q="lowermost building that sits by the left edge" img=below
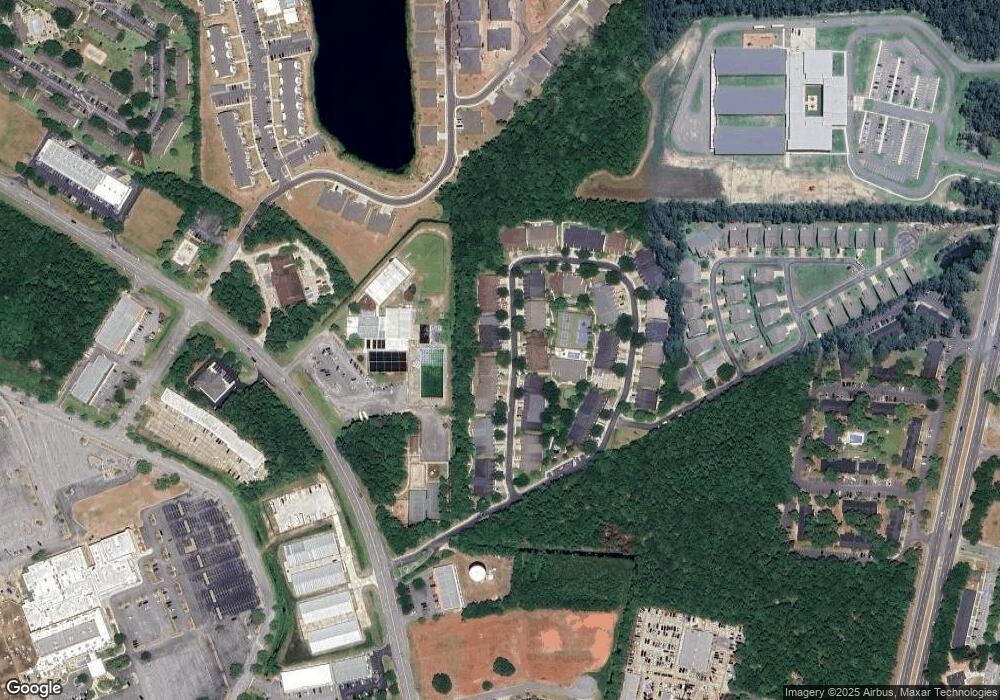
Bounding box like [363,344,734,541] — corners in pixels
[19,528,146,678]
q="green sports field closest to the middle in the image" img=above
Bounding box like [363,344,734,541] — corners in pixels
[421,349,443,397]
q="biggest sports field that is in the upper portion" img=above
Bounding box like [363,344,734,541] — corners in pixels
[406,235,445,294]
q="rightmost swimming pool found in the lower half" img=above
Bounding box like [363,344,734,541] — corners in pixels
[848,432,864,445]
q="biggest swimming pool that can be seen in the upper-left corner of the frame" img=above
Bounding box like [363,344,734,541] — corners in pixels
[17,6,60,42]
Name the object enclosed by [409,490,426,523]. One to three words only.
tennis court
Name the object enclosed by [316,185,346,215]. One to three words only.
house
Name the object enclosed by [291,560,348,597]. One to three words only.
building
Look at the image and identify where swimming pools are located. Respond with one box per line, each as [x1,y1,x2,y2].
[848,432,864,445]
[555,349,587,359]
[17,6,60,42]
